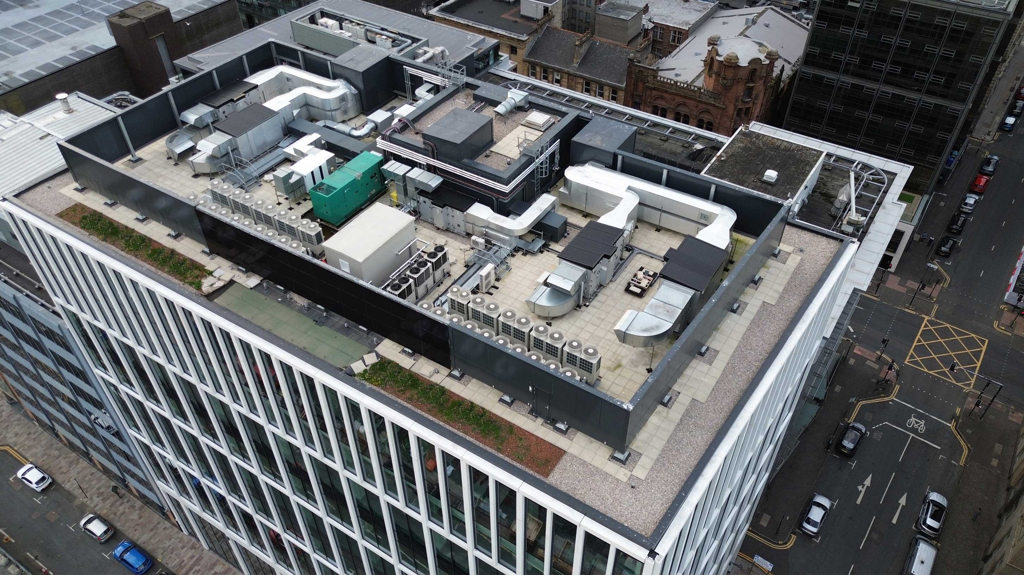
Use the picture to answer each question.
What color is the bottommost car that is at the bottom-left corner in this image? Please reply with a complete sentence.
From above, the bottommost car that is at the bottom-left corner appears blue.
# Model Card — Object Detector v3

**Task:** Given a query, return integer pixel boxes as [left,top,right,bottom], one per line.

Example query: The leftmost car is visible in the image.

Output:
[15,461,53,493]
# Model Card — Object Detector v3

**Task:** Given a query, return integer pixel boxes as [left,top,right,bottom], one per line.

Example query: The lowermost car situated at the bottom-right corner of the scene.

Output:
[900,537,936,575]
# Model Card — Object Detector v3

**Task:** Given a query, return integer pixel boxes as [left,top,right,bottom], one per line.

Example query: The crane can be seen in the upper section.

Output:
[820,172,862,239]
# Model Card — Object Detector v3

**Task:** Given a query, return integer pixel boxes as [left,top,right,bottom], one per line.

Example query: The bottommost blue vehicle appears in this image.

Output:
[109,537,153,575]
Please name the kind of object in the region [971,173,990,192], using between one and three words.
car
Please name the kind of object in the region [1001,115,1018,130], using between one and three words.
car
